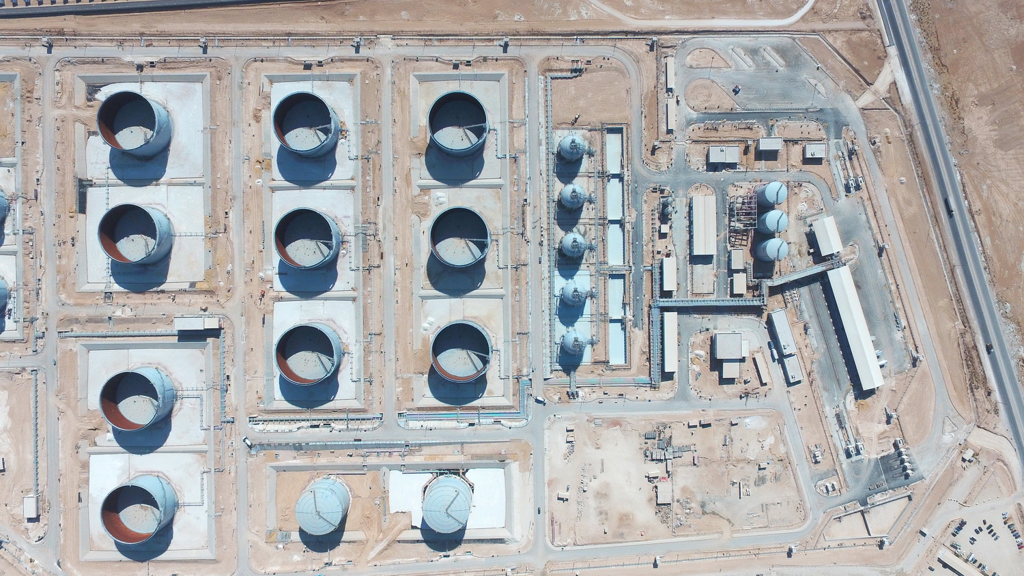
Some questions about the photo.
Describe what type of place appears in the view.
industrial area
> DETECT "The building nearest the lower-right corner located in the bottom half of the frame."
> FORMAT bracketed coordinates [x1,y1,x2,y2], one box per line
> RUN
[937,548,988,576]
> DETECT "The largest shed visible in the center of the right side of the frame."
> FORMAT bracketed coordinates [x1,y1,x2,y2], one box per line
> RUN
[822,265,884,390]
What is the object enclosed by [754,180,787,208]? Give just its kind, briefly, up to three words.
storage tank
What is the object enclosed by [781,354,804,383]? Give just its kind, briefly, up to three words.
building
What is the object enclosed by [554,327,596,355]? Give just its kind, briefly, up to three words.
storage tank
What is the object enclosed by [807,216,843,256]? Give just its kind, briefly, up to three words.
shed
